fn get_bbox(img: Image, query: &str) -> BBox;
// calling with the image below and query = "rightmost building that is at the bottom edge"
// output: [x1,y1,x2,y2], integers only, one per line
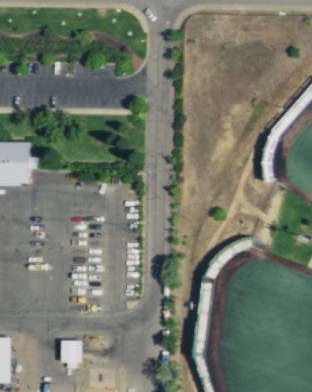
[62,340,84,376]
